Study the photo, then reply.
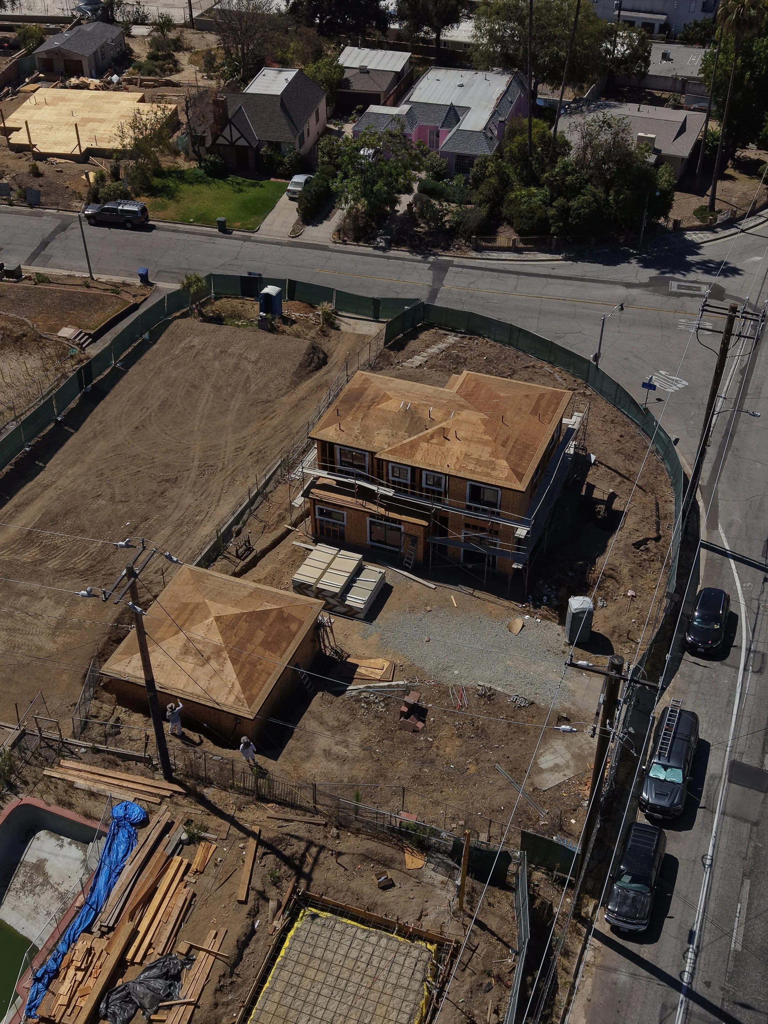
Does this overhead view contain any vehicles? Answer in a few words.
Yes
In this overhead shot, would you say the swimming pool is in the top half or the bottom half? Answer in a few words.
bottom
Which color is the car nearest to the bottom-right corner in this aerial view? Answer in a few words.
black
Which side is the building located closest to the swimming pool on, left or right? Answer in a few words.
left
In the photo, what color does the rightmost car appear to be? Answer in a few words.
black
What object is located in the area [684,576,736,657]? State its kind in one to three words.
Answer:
car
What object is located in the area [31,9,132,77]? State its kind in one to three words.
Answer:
building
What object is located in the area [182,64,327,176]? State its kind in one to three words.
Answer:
house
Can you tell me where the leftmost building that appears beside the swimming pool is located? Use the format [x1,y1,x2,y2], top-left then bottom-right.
[98,567,326,756]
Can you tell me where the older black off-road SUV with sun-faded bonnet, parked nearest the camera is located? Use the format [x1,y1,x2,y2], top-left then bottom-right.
[602,812,671,938]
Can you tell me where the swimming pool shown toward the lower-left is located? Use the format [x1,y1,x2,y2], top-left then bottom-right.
[0,799,115,1024]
